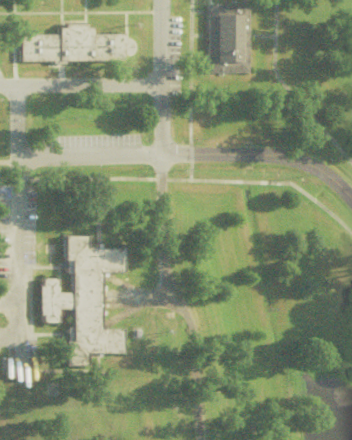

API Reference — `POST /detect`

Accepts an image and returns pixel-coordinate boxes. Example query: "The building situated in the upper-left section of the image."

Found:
[23,23,139,62]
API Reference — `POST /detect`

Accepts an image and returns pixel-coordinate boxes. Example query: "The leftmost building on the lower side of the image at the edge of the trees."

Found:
[43,236,130,366]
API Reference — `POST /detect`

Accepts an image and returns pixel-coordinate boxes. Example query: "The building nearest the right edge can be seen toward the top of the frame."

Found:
[212,8,255,74]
